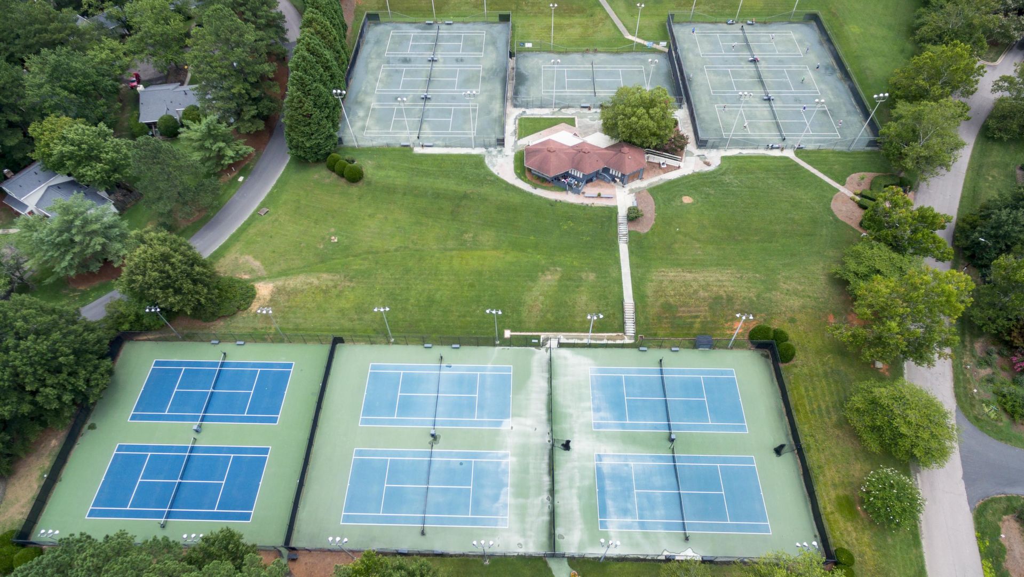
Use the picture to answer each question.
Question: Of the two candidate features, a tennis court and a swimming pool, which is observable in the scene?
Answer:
tennis court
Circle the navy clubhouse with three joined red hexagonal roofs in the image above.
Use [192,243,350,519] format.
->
[525,131,647,194]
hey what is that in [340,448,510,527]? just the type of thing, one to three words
tennis court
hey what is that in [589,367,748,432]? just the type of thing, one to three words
tennis court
